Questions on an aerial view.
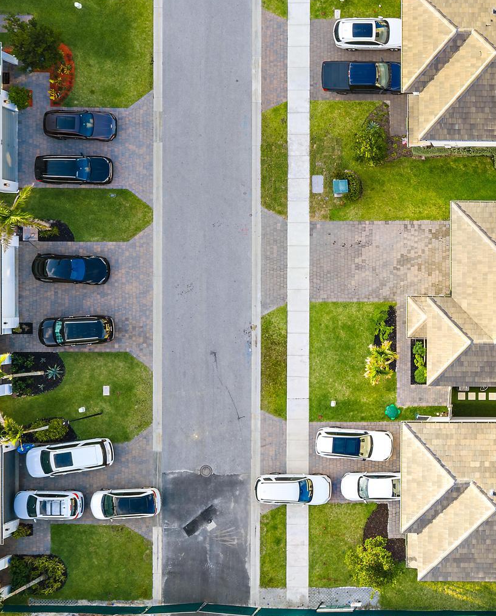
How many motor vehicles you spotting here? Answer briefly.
12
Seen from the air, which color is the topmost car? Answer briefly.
white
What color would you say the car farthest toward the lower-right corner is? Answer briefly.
white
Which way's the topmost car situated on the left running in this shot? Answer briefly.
from left to right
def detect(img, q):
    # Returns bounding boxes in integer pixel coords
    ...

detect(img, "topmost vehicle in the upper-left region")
[43,107,122,142]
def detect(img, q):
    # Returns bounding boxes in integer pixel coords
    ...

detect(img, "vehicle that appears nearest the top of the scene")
[333,14,399,52]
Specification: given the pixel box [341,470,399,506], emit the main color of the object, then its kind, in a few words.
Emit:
white car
